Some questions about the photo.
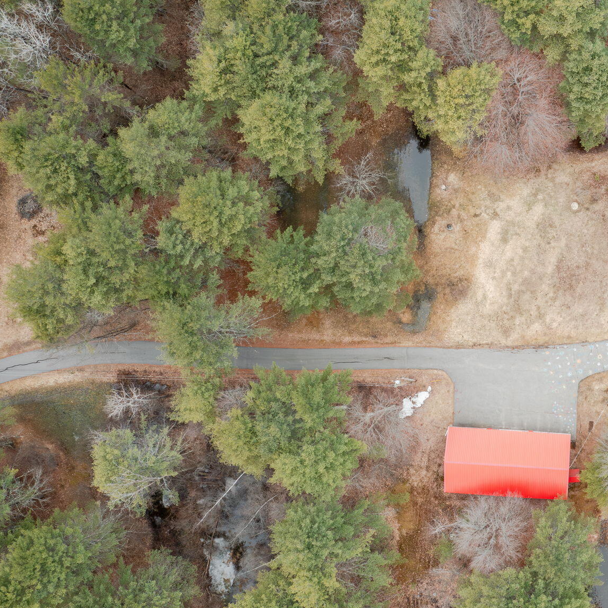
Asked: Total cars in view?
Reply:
0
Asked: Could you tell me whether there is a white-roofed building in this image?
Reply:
No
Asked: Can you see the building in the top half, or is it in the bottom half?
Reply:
bottom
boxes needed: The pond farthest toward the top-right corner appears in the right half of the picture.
[393,120,435,234]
